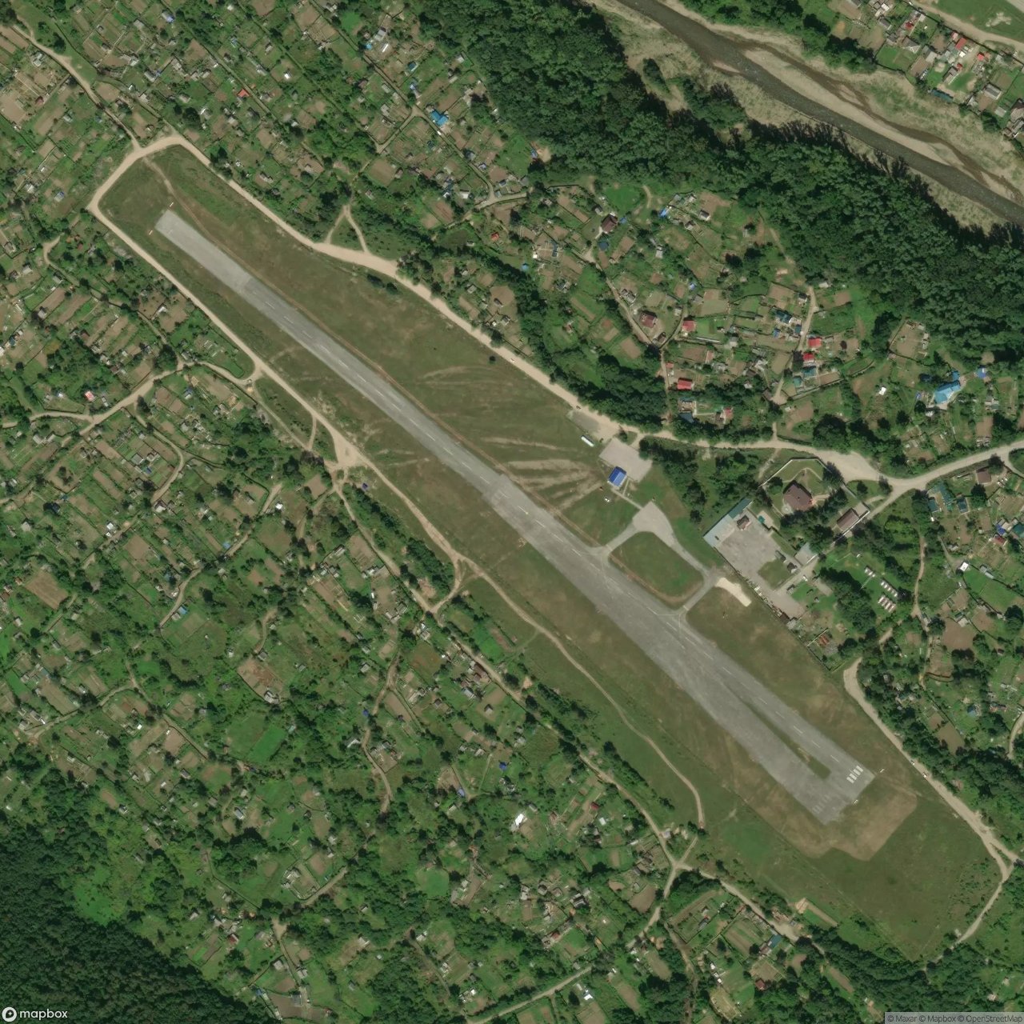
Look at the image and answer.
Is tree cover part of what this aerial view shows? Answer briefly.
Yes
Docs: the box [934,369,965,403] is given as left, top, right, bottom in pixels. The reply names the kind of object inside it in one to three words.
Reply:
house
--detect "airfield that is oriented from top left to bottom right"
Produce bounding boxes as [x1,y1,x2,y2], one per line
[98,145,999,960]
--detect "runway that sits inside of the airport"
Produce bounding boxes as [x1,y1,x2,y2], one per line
[155,210,874,825]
